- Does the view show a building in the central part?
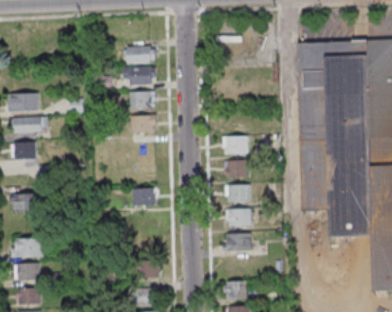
Yes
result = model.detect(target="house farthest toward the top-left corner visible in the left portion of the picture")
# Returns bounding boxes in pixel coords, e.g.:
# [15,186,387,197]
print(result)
[8,93,41,112]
